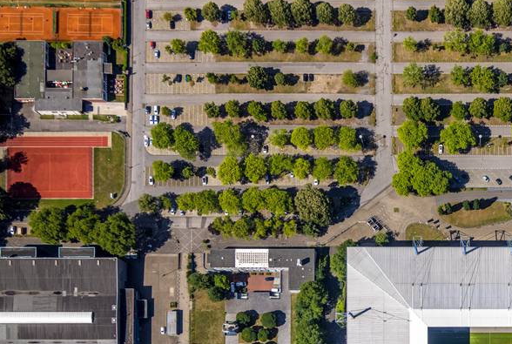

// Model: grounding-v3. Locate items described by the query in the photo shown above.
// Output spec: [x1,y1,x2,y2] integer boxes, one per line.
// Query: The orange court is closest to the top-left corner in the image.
[0,7,53,40]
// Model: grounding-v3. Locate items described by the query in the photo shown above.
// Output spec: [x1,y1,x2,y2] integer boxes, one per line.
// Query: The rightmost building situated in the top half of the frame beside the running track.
[73,41,108,102]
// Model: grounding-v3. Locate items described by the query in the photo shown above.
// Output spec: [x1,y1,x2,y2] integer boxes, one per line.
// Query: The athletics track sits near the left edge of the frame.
[1,132,111,148]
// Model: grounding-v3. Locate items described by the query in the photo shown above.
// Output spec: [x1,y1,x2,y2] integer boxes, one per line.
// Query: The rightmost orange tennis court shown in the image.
[59,8,120,40]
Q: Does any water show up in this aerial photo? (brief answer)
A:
No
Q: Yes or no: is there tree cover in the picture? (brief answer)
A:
Yes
